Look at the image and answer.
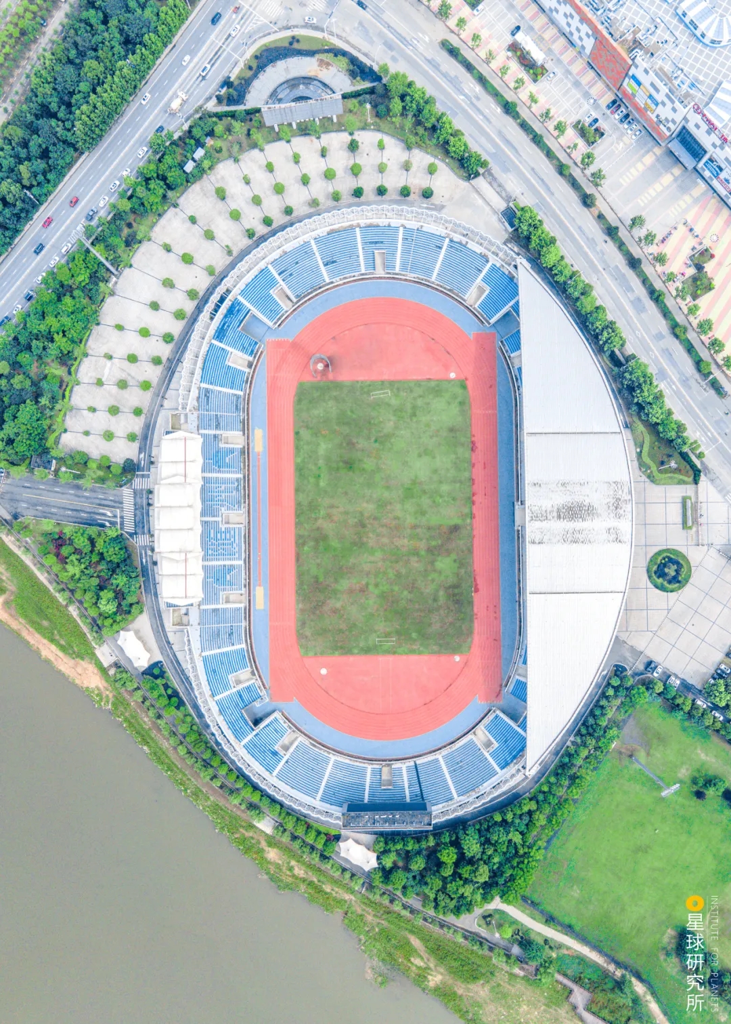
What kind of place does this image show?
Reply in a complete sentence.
The area seen from above is a sports ground.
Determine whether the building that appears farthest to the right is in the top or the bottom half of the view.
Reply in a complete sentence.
The building that appears farthest to the right is in the top half of the image.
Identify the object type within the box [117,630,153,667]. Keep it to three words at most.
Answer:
tent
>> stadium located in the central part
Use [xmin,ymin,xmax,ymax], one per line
[154,203,635,841]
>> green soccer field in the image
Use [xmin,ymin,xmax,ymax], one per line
[294,380,474,656]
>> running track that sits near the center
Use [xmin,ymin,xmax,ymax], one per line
[247,283,522,764]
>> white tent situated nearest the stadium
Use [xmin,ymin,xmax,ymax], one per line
[339,837,377,871]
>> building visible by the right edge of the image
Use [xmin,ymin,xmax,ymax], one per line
[535,0,731,210]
